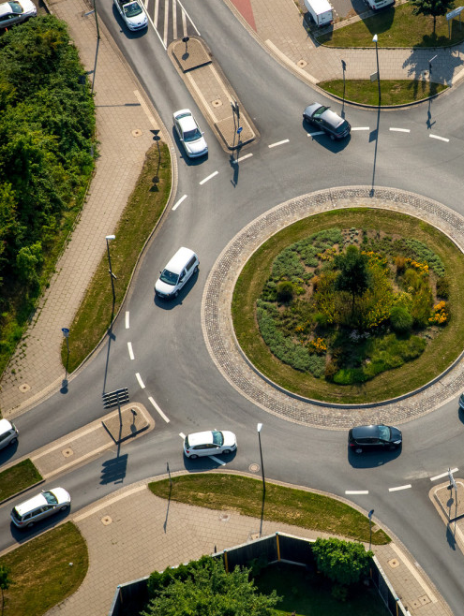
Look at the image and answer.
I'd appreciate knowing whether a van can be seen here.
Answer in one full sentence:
Yes, you can see a van in this photo.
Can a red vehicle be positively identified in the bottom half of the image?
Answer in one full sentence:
No, no red vehicle is visible in the bottom half of the image.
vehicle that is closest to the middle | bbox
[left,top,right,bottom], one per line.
[156,249,200,299]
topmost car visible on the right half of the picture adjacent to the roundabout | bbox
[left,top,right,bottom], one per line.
[302,105,352,144]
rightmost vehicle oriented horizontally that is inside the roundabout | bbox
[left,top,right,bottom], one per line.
[348,426,402,452]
